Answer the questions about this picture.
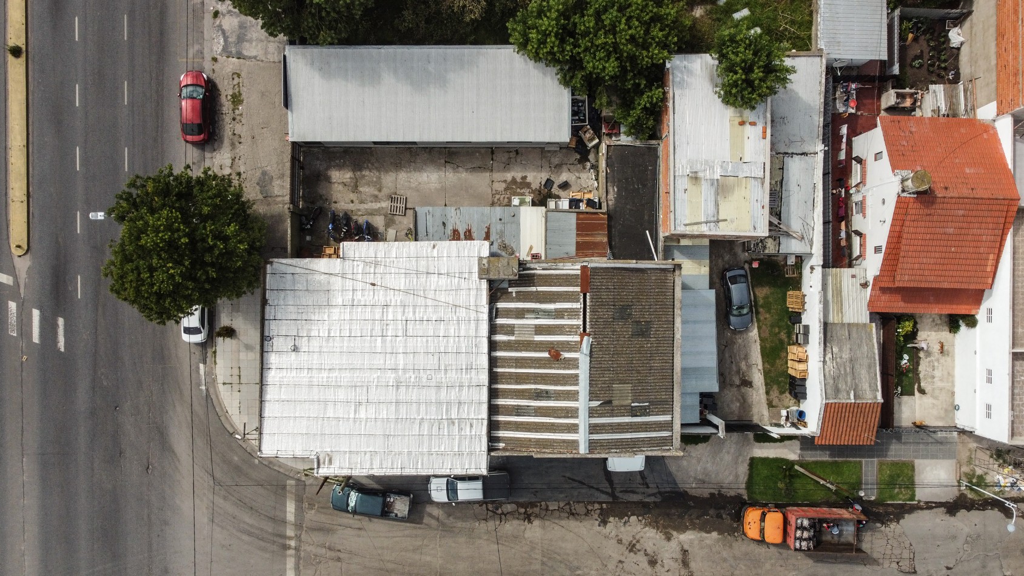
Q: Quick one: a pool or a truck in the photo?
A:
truck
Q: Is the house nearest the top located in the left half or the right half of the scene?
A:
right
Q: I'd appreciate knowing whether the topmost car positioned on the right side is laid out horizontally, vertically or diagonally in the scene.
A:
vertically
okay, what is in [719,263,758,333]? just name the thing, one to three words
car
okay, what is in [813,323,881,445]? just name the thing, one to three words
building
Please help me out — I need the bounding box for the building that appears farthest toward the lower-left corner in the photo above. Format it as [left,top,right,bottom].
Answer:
[257,242,490,476]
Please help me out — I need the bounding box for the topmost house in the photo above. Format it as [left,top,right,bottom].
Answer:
[803,0,887,72]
